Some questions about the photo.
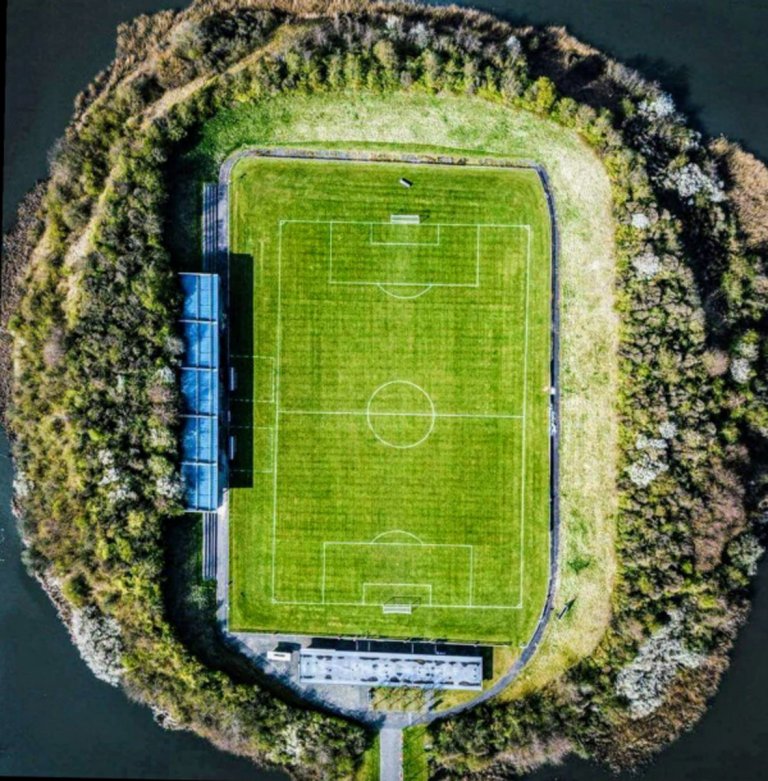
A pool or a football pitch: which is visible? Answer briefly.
football pitch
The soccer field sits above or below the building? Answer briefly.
above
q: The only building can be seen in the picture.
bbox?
[300,648,483,690]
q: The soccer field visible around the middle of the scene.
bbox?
[230,156,551,644]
